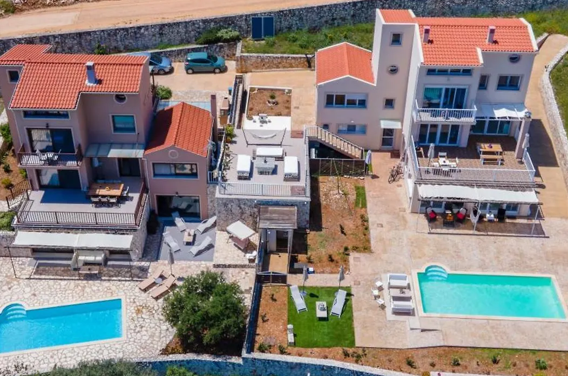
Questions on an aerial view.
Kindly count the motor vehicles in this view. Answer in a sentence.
The picture shows 2 motor vehicles.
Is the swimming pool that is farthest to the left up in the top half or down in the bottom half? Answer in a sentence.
The swimming pool that is farthest to the left is in the bottom half of the image.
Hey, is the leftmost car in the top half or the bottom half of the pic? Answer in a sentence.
The leftmost car is in the top half of the image.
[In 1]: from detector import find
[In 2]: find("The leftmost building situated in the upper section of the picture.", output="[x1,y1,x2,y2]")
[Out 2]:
[0,42,223,255]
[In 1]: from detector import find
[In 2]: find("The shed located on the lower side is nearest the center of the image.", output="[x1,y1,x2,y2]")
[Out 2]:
[257,205,300,248]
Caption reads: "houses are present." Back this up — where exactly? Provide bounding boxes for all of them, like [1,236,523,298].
[0,42,223,255]
[311,8,550,214]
